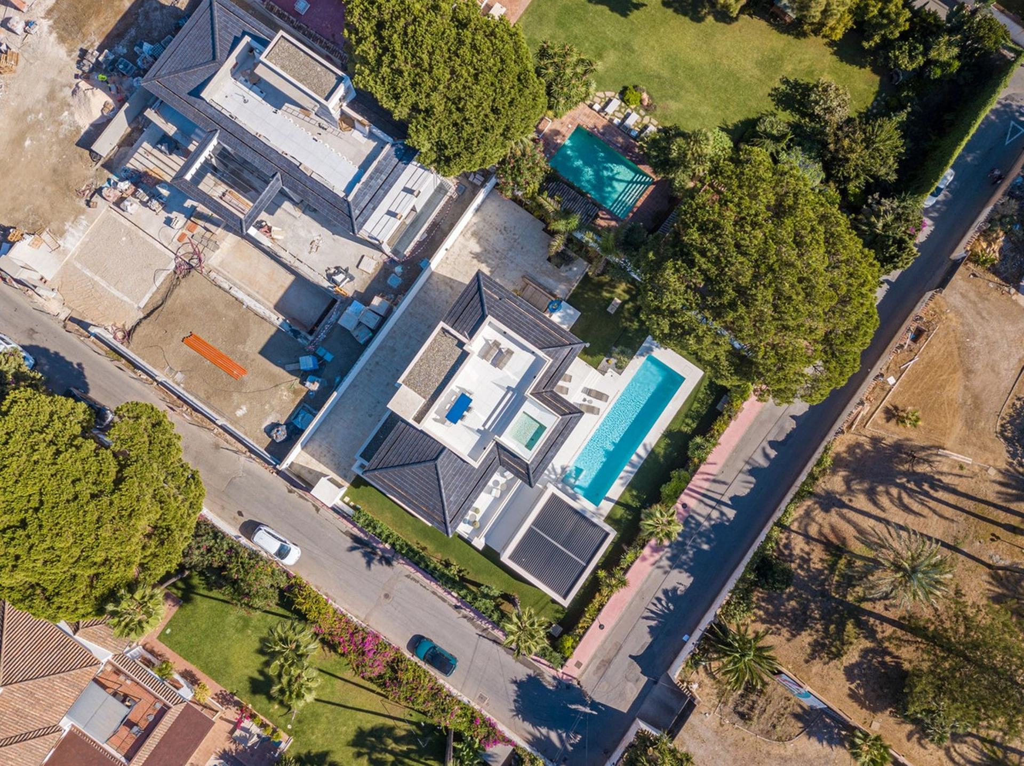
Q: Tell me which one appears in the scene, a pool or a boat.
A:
pool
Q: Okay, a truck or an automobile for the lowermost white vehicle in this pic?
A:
automobile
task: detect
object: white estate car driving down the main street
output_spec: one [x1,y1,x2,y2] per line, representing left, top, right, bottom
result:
[247,520,304,568]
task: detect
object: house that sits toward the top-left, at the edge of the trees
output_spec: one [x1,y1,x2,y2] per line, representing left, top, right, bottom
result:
[91,0,455,262]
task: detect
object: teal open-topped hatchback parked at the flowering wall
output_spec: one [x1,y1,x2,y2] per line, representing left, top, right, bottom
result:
[411,634,461,679]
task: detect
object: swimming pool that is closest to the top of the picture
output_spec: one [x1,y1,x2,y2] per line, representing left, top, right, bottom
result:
[549,125,653,218]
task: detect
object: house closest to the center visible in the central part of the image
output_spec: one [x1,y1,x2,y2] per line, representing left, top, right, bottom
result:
[350,270,590,558]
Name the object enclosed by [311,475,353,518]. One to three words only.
building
